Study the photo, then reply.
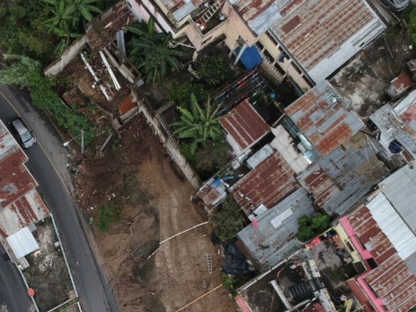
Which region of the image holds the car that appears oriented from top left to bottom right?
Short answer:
left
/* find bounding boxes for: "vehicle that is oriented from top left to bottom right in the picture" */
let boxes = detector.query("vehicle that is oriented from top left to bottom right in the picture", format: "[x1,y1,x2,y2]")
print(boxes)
[6,114,41,151]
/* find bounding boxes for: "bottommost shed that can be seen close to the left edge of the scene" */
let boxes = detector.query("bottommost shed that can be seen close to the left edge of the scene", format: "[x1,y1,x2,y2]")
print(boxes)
[6,230,39,258]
